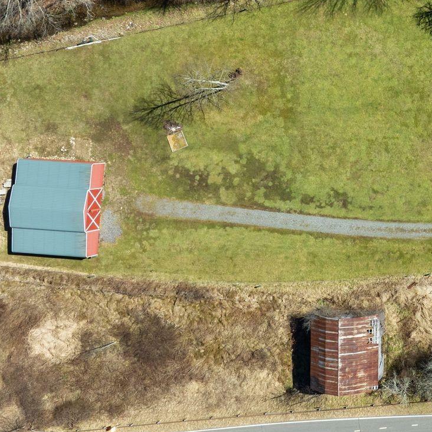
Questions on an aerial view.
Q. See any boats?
No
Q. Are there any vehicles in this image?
No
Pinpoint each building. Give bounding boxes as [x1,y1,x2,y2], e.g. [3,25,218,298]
[310,313,385,397]
[8,158,106,257]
